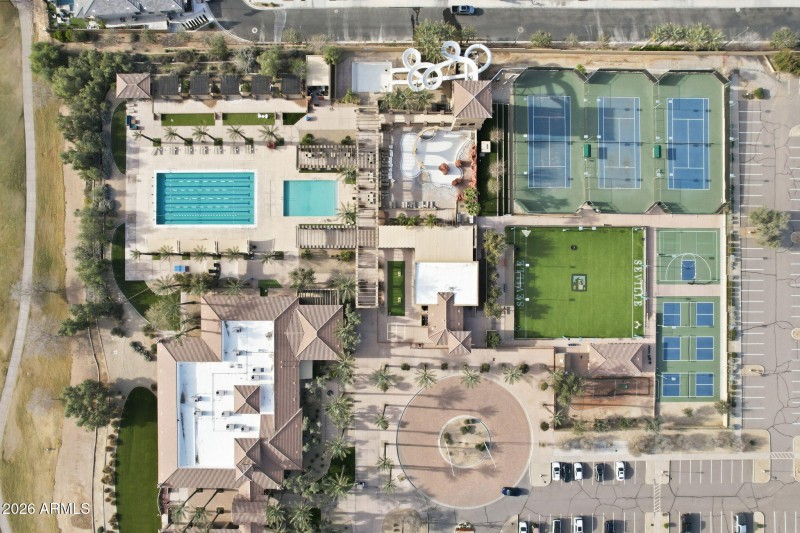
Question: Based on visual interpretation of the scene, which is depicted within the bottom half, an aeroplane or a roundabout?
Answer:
roundabout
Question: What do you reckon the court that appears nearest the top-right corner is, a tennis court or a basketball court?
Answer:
tennis court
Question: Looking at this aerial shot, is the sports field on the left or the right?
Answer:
right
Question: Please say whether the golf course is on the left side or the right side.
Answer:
left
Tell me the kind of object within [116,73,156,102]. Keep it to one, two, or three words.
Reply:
building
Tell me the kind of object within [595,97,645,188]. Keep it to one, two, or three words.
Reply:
tennis court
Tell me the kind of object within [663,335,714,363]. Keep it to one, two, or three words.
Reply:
sports court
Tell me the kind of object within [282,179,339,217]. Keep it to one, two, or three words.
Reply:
swimming pool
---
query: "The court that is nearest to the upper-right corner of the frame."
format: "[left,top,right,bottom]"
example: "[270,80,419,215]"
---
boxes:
[665,98,714,190]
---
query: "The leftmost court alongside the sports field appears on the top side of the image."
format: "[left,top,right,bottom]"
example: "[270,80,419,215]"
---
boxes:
[526,96,575,188]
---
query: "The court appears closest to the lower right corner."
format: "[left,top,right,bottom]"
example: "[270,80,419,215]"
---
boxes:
[662,372,713,399]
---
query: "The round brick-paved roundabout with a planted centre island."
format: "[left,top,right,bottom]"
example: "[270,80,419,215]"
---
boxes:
[395,373,534,511]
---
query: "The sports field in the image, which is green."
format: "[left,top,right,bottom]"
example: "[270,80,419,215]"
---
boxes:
[514,226,646,339]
